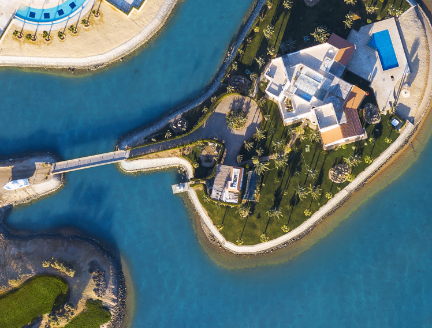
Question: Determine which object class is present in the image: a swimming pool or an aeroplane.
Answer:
swimming pool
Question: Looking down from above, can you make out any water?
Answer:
Yes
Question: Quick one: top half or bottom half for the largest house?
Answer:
top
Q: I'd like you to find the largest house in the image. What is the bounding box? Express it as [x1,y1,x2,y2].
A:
[263,34,367,149]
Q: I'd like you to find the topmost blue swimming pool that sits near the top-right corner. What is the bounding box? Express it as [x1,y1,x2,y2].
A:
[364,27,400,72]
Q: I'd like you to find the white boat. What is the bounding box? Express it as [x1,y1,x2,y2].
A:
[3,178,32,190]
